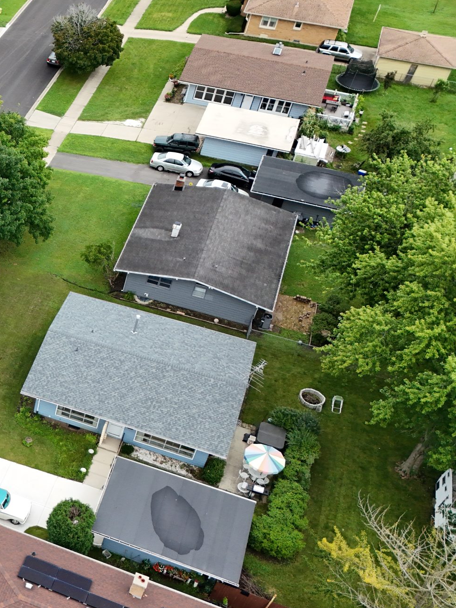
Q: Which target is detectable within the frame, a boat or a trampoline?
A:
trampoline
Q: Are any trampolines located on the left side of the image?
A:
No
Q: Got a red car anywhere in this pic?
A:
No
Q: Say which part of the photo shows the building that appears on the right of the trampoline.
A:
top right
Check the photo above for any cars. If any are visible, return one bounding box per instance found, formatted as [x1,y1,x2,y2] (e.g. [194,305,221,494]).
[151,152,205,177]
[313,41,359,67]
[205,160,257,186]
[155,130,202,157]
[46,48,63,66]
[196,176,253,197]
[0,483,42,524]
